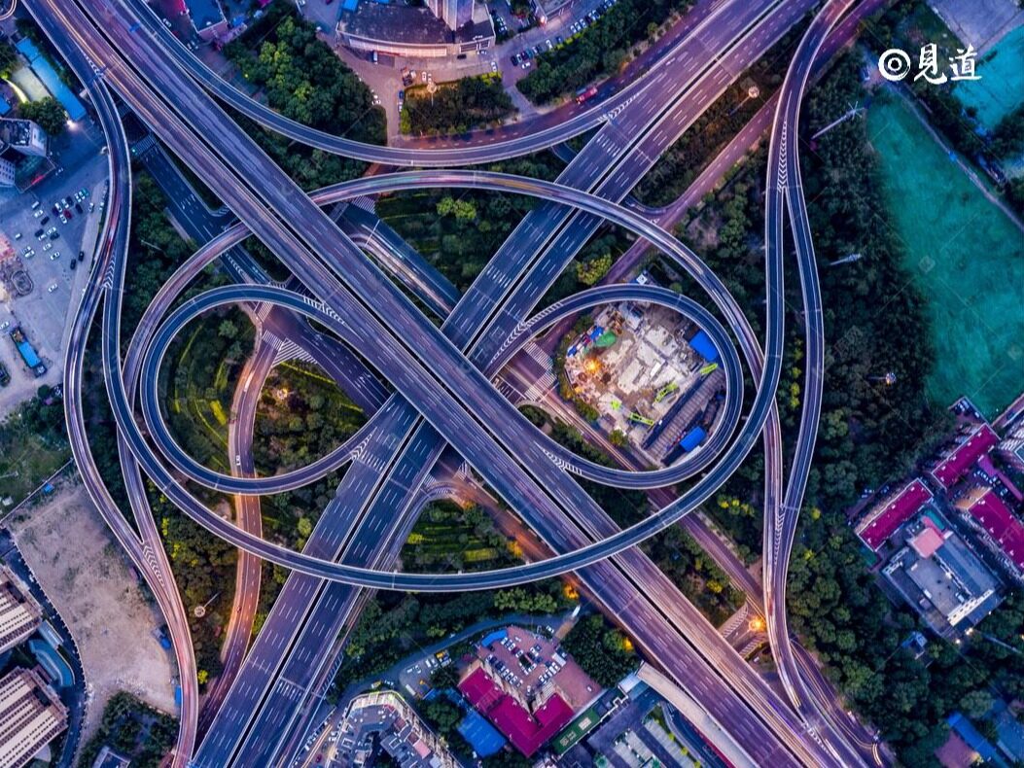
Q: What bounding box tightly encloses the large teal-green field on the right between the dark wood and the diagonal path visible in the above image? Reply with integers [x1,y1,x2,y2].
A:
[862,89,1024,419]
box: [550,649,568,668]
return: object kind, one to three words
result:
vehicle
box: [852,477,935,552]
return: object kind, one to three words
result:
building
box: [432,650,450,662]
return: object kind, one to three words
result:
vehicle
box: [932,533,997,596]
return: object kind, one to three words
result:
building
